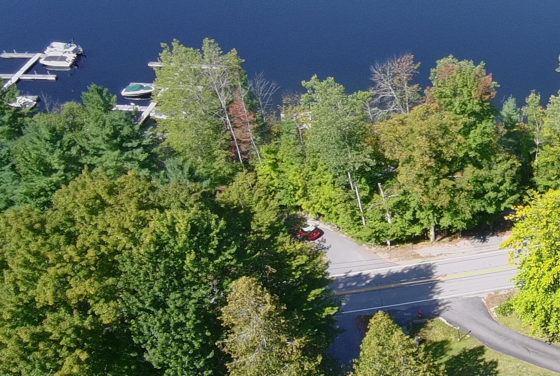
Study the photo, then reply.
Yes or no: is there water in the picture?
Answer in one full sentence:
Yes, there is water in the image.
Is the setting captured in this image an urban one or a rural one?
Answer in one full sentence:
It looks rural.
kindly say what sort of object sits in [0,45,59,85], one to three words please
pier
